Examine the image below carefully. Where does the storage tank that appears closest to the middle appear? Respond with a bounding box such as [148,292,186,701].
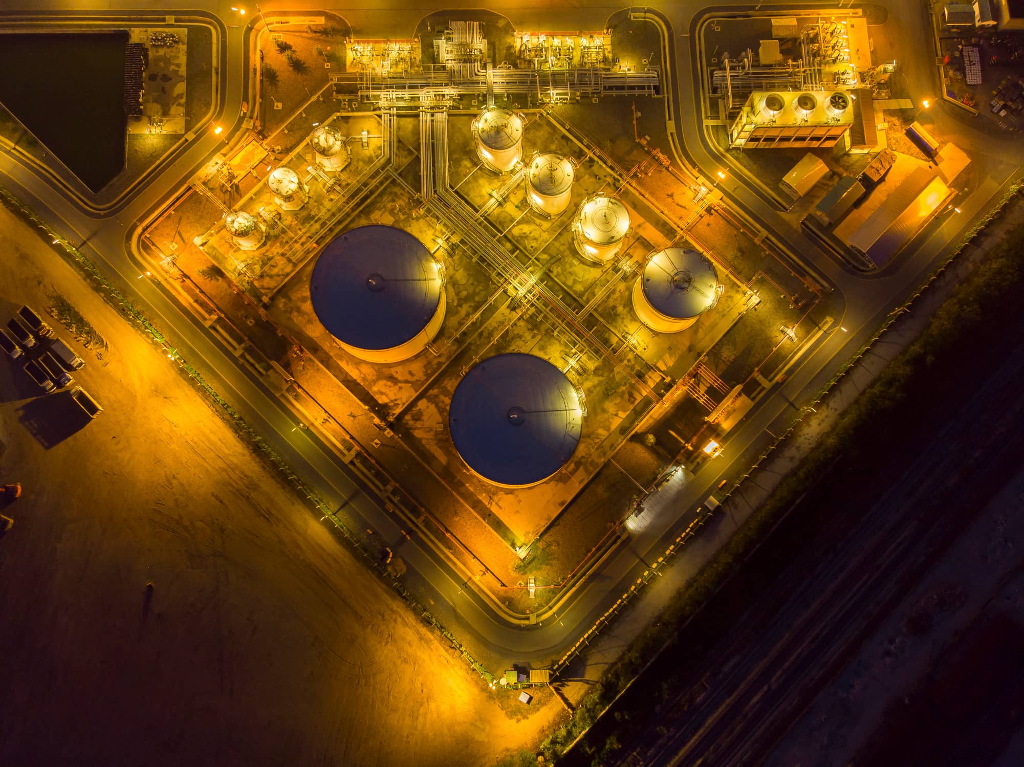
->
[448,353,588,492]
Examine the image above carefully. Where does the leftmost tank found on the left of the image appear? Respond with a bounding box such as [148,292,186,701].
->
[219,208,270,254]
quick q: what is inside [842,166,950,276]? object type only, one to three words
building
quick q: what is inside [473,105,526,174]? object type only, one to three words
storage tank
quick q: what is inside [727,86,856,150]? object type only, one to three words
cooling tower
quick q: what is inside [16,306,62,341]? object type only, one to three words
truck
